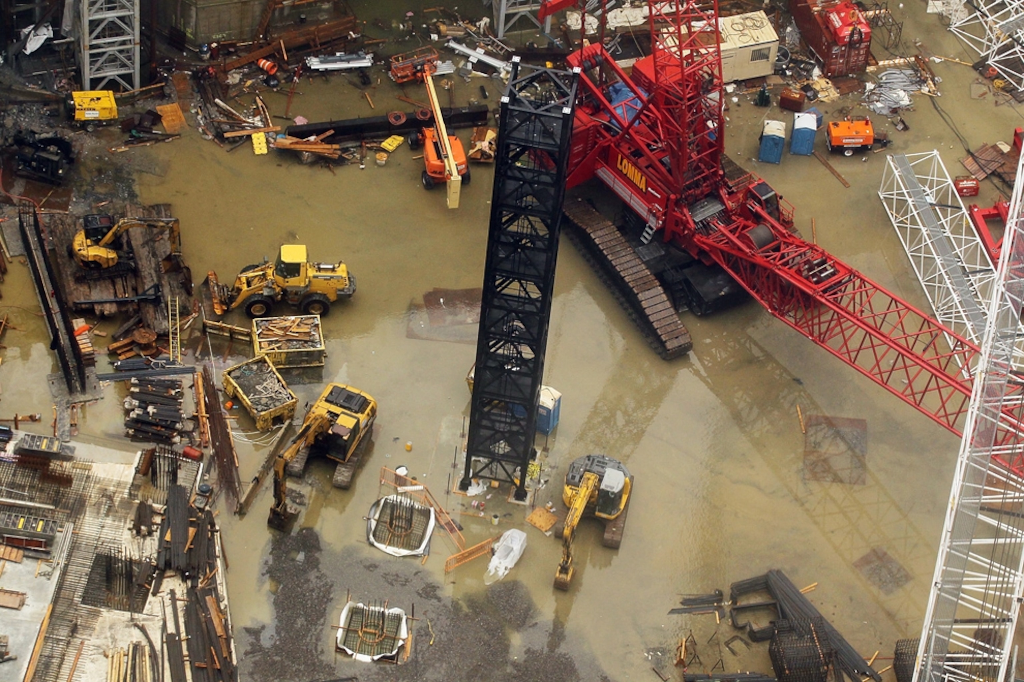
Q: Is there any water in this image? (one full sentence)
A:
Yes, the picture does contain water.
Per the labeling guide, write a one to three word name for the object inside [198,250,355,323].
work vehicle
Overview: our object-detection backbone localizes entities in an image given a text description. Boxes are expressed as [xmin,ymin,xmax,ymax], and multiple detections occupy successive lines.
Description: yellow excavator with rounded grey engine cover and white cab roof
[550,442,637,586]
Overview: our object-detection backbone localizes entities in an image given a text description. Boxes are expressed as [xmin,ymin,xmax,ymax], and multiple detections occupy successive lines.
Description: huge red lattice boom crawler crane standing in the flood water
[530,0,1024,478]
